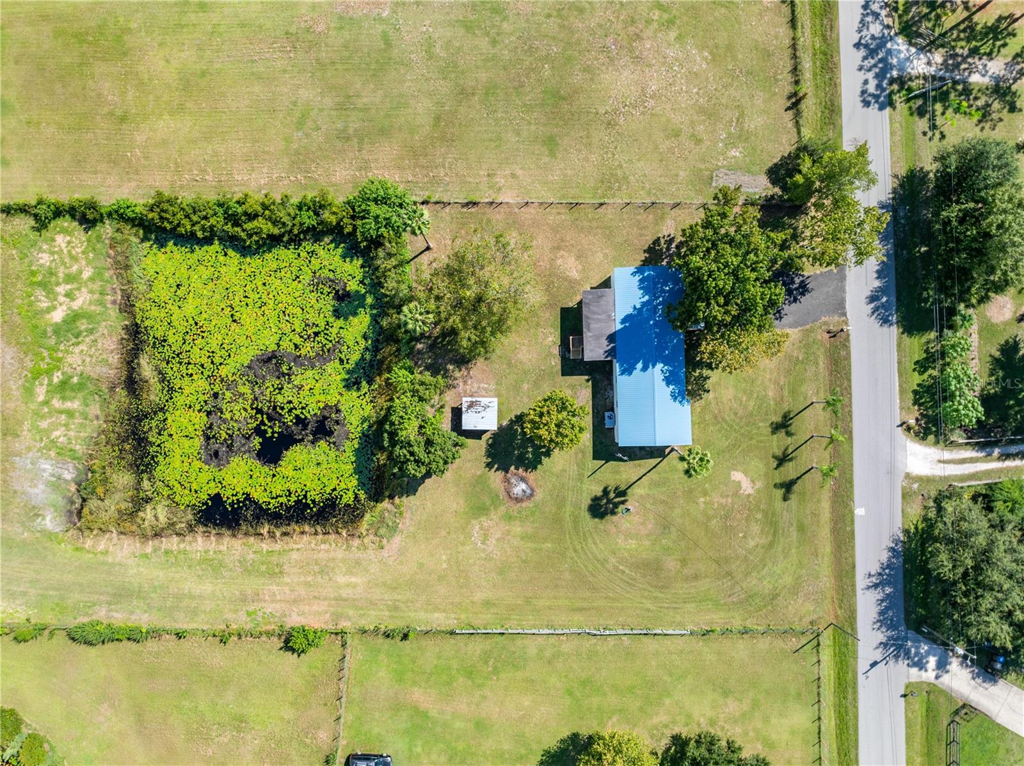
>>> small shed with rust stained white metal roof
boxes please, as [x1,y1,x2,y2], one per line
[460,400,496,432]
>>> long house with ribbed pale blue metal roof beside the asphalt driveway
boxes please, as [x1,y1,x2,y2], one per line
[580,265,703,448]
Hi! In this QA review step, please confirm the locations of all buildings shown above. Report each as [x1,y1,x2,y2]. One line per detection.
[460,400,496,432]
[580,265,703,448]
